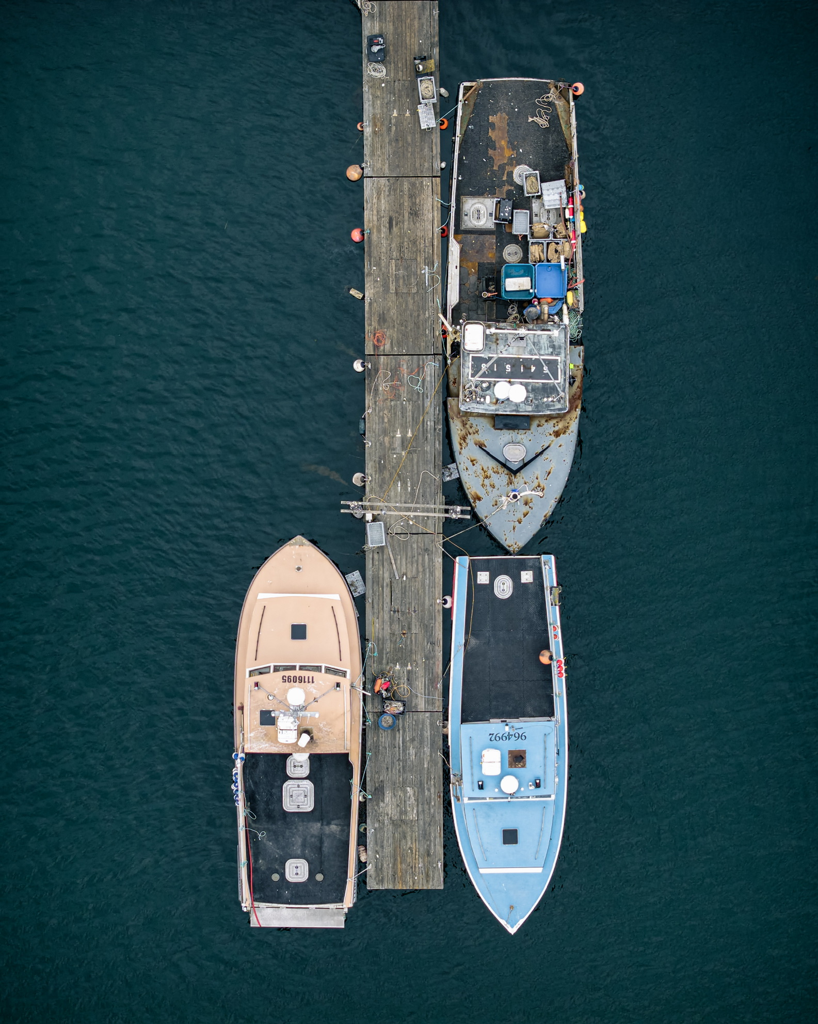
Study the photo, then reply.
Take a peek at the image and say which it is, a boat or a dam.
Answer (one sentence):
There is a boat in the scene.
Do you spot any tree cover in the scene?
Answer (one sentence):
No, no tree cover is visible.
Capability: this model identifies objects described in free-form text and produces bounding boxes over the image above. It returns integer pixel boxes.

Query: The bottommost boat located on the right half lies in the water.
[449,555,569,934]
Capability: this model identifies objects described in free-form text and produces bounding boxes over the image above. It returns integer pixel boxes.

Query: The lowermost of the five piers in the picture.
[366,711,443,889]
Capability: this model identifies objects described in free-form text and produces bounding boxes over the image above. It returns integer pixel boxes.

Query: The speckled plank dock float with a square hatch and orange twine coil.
[364,178,441,356]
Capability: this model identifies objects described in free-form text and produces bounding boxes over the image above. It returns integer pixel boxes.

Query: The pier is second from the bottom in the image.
[366,534,443,711]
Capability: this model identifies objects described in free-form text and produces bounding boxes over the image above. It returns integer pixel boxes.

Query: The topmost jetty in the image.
[362,0,440,178]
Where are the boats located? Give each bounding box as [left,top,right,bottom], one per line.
[233,535,370,928]
[438,78,584,556]
[449,555,569,934]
